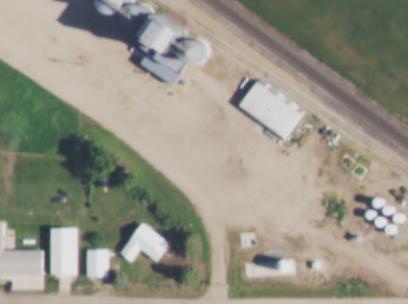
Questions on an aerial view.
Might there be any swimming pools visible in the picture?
No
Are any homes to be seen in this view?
Yes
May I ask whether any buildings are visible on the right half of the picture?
Yes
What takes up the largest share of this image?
paved ground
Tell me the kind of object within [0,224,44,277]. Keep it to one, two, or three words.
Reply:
house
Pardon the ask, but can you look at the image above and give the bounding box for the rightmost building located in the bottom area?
[120,224,170,262]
